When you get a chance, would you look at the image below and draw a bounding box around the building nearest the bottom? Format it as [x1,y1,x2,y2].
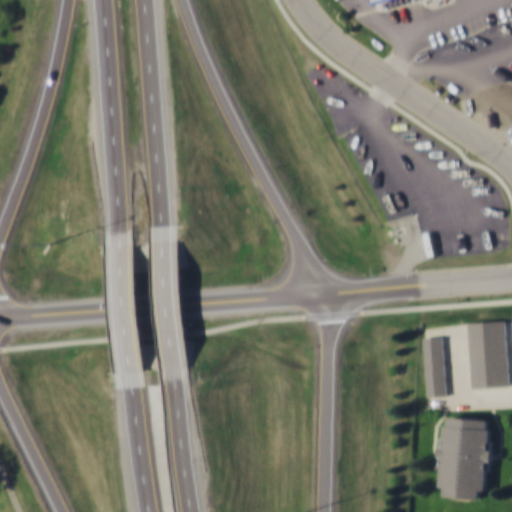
[434,419,490,499]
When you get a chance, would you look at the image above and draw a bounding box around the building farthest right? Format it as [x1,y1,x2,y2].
[466,322,512,388]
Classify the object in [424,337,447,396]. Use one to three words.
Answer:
building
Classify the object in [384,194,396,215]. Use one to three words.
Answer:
vehicle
